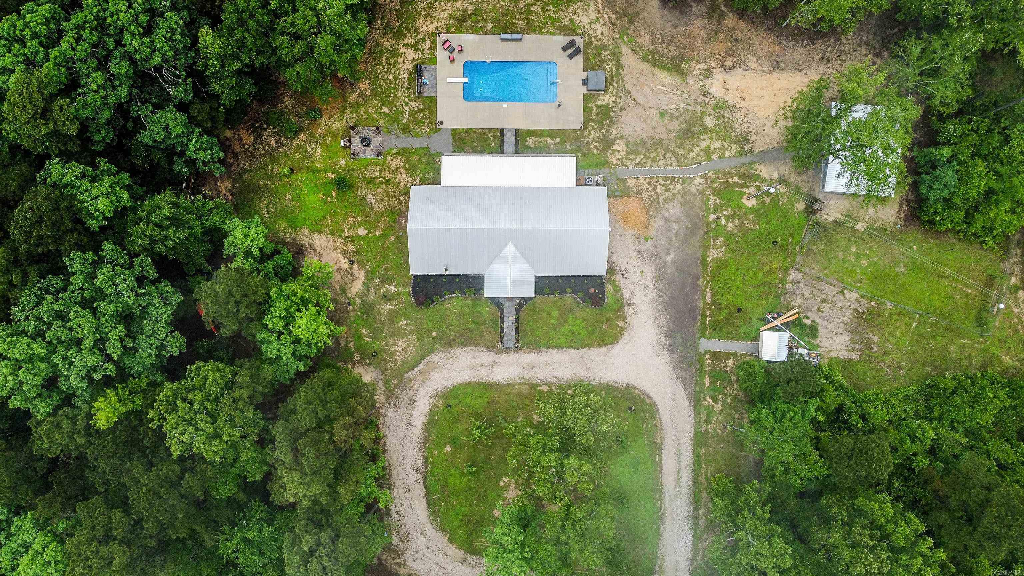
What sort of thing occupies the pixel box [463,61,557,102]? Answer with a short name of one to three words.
swimming pool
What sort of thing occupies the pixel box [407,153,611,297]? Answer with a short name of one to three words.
house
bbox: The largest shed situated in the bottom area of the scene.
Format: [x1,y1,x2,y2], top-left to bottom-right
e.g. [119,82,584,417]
[756,331,789,361]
